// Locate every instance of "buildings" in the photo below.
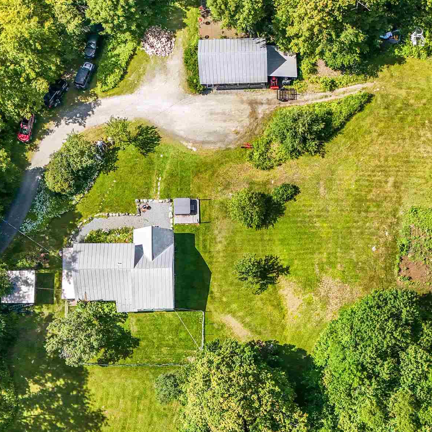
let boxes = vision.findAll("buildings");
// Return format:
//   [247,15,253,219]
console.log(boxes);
[1,271,40,303]
[62,225,176,312]
[198,39,267,92]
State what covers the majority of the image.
grass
